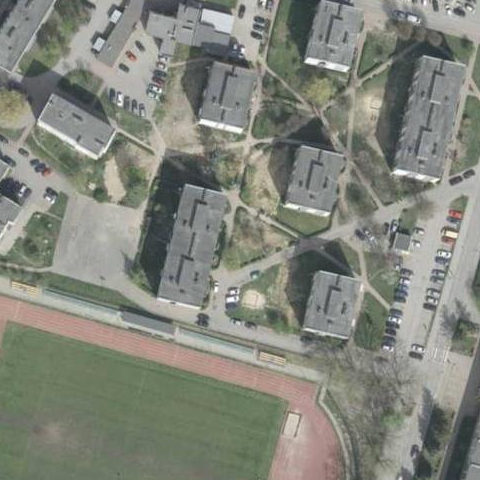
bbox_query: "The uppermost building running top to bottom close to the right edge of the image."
[392,55,466,182]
